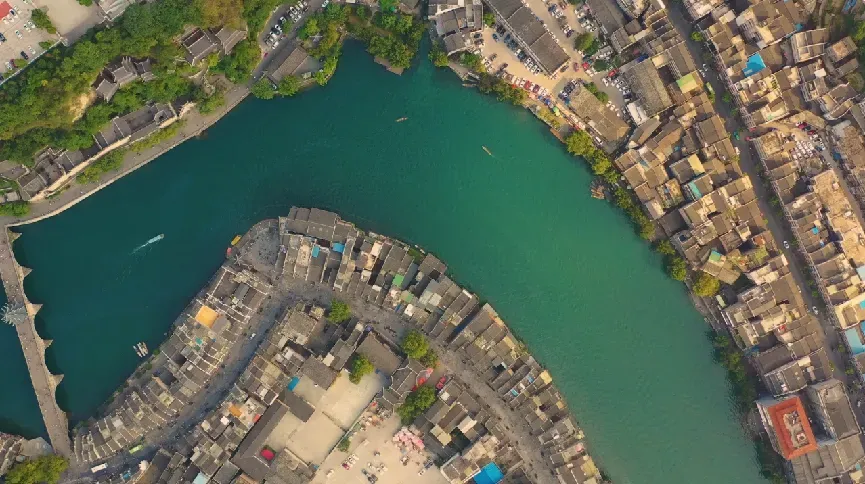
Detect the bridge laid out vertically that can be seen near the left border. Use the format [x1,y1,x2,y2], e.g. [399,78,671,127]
[0,215,75,462]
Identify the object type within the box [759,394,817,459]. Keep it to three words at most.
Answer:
building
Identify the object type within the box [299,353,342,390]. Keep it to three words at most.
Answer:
house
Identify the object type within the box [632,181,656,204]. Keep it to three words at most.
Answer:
house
